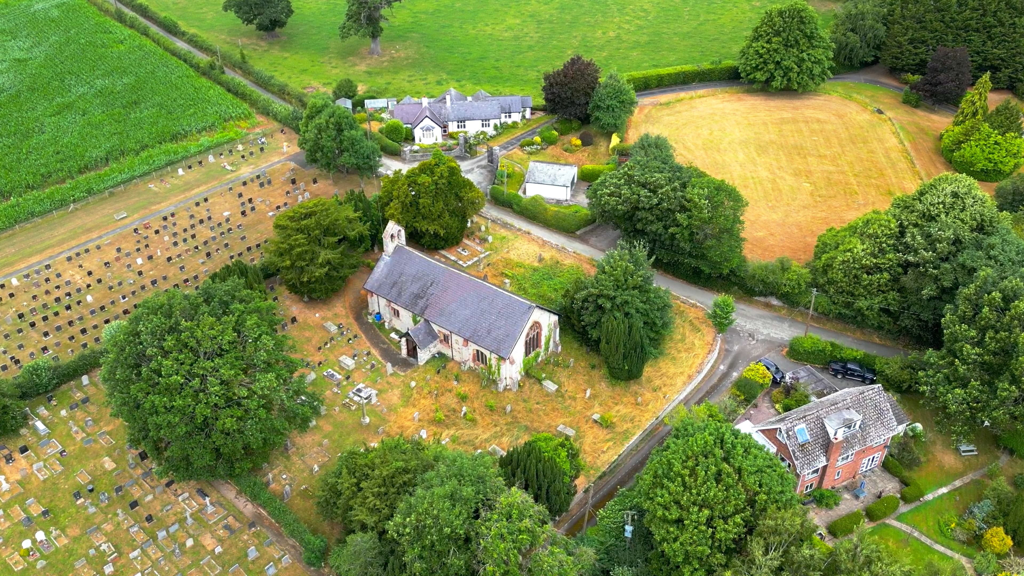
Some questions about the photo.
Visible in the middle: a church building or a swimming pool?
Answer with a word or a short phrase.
church building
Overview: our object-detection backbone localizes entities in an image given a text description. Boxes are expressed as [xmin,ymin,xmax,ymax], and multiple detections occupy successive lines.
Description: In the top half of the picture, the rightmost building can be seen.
[525,162,577,199]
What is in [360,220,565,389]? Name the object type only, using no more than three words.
church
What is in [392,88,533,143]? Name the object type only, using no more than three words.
house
